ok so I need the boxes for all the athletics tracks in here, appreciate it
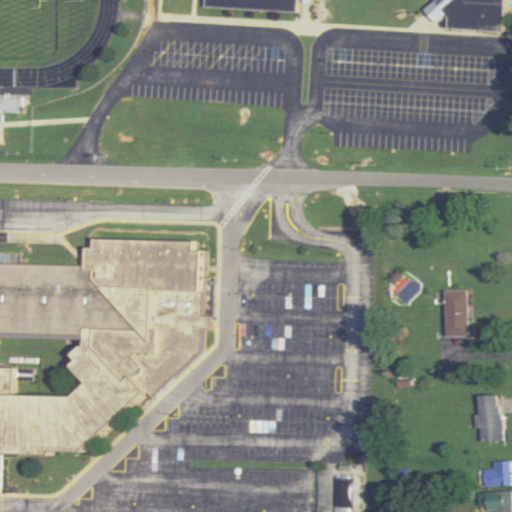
[0,0,118,95]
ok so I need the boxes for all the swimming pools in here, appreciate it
[390,272,422,306]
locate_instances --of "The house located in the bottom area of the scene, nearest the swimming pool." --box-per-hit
[438,290,470,338]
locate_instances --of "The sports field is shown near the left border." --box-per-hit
[0,0,100,67]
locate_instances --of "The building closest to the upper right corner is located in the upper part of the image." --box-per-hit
[445,0,506,32]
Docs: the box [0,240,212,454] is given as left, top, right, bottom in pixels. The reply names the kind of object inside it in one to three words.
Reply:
building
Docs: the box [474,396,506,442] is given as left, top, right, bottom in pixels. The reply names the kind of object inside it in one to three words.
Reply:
house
